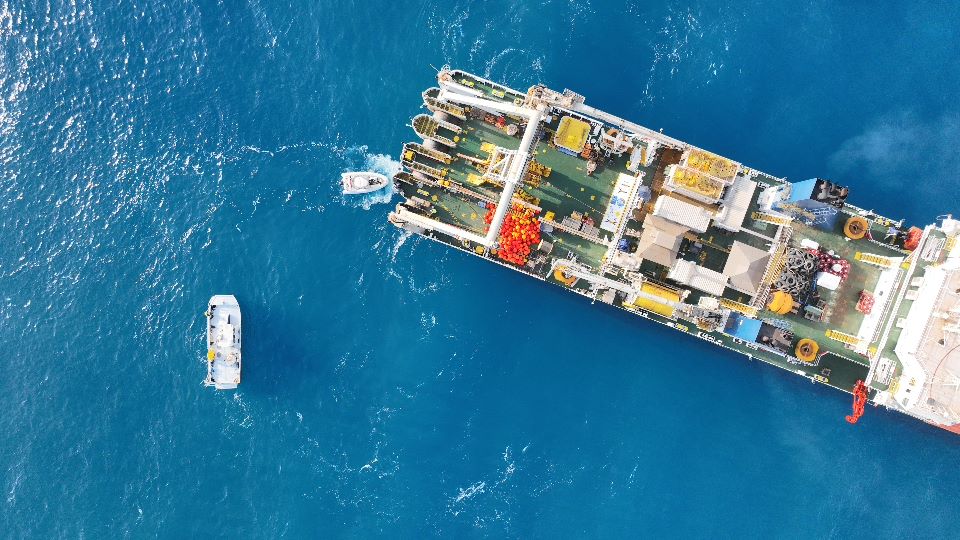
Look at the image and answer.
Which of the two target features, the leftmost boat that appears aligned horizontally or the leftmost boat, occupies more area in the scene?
the leftmost boat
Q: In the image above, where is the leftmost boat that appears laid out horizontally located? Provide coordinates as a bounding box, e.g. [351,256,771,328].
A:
[337,171,389,195]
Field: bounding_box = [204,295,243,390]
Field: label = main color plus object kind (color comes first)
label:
white boat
